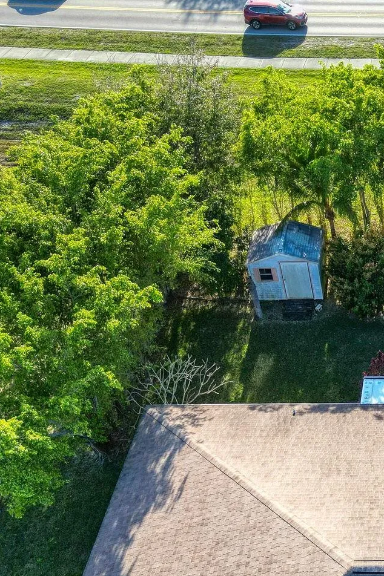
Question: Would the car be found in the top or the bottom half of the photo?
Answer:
top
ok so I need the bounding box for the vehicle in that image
[241,0,308,28]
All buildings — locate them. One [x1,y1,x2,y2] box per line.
[80,405,384,576]
[247,217,328,305]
